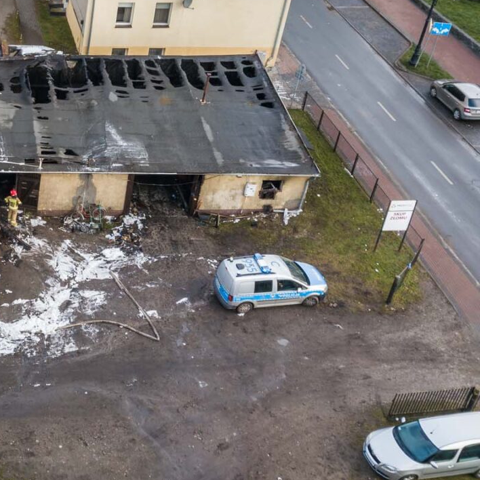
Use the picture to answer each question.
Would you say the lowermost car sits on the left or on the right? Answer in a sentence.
You can find the lowermost car on the right side of the picture.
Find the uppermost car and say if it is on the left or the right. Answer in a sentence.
You can find the uppermost car on the right side of the picture.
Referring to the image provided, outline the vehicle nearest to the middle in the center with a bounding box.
[212,250,331,310]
